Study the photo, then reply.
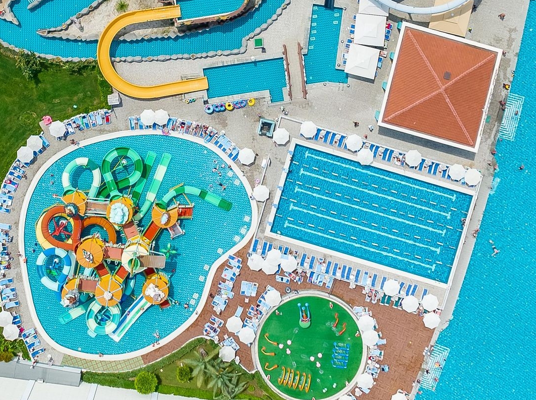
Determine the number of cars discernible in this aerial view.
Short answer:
0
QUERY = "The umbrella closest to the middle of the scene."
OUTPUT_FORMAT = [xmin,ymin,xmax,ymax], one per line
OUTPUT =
[251,183,268,200]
